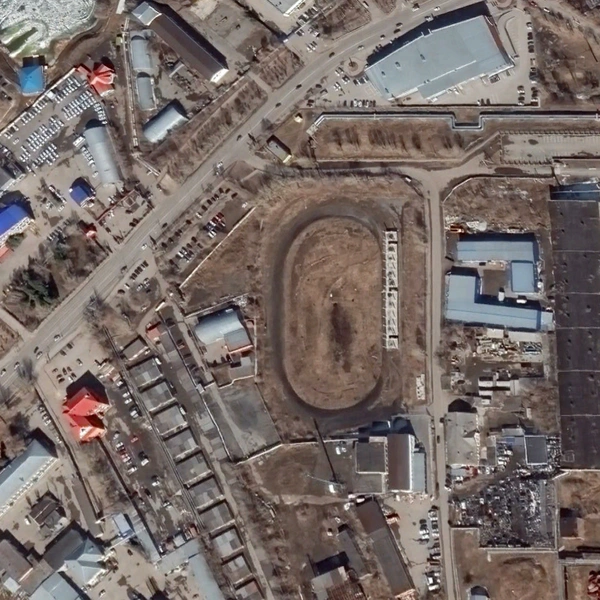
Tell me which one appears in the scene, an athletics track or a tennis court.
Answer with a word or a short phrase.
athletics track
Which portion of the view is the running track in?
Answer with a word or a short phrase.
center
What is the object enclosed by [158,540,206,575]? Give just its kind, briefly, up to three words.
shed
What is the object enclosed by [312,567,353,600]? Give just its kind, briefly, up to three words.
house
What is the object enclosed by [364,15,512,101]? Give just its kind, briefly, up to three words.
building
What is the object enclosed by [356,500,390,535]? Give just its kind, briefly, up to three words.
barn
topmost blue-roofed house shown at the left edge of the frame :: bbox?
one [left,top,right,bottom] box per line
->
[20,66,48,94]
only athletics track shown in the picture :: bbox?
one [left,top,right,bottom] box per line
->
[270,203,400,426]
